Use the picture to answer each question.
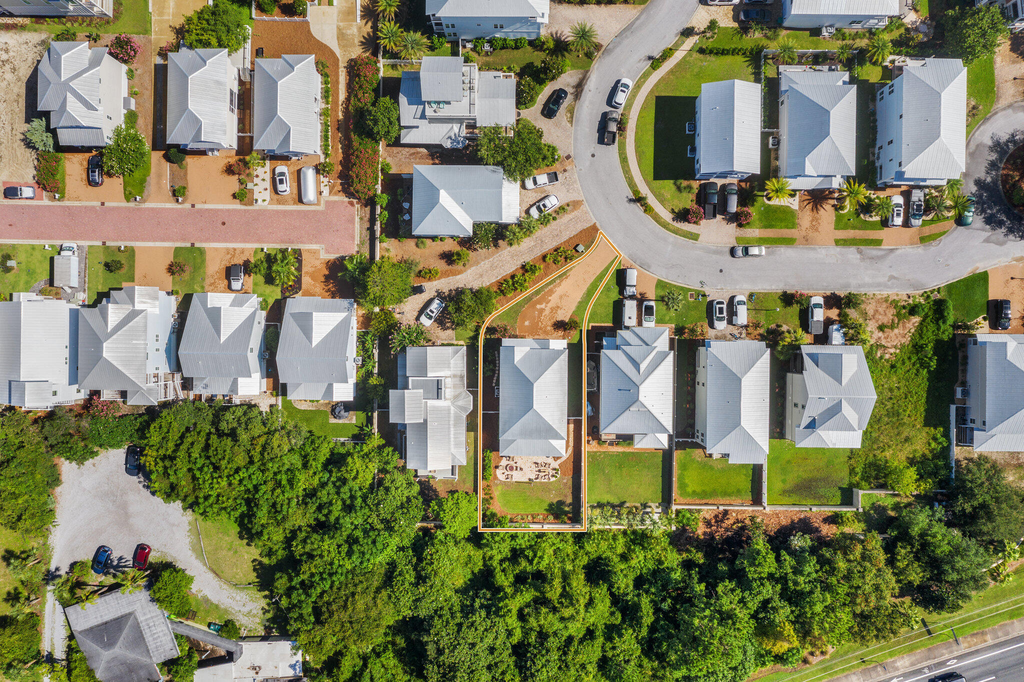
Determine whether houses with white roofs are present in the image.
Yes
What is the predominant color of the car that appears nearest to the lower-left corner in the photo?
blue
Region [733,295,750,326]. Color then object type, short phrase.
white car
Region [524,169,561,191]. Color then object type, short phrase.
white truck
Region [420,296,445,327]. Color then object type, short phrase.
white car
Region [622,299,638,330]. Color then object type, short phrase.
white vehicle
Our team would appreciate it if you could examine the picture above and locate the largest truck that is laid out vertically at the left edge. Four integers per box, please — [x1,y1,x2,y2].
[50,234,78,298]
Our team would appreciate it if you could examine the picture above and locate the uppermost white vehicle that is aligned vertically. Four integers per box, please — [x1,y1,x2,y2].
[613,76,632,110]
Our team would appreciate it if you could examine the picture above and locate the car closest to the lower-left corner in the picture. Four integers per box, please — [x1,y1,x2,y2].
[92,544,114,575]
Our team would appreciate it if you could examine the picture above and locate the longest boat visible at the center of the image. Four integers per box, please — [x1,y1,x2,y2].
[584,356,600,396]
